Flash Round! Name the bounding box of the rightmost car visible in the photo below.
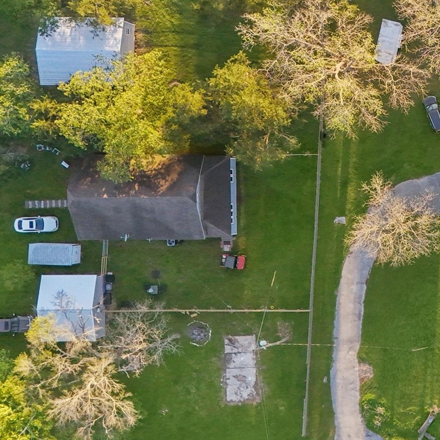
[421,94,440,136]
